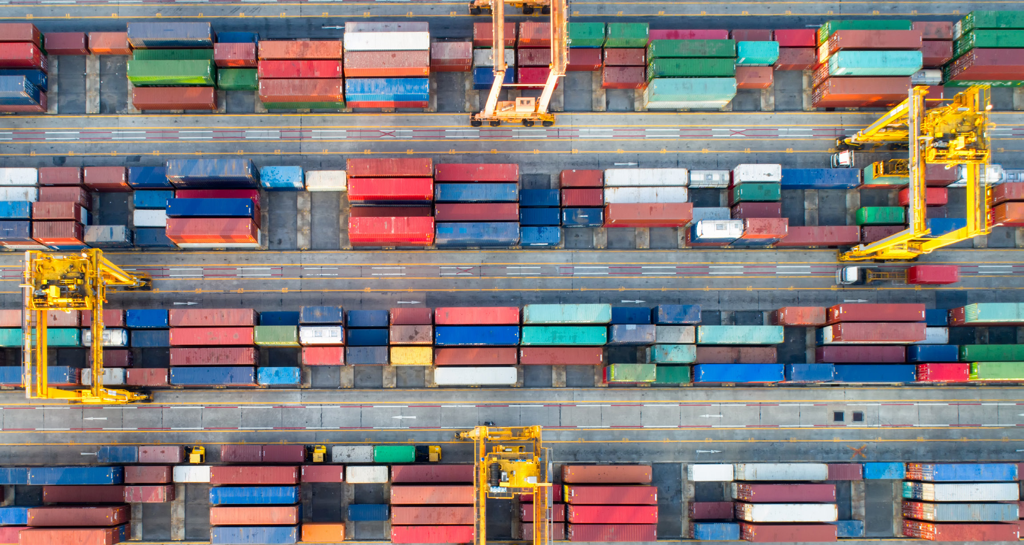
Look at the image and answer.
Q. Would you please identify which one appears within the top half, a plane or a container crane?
container crane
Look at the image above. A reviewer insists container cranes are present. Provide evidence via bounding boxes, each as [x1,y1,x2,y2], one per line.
[21,249,151,401]
[453,427,557,545]
[838,85,992,256]
[469,0,566,126]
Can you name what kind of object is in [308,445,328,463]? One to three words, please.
work vehicle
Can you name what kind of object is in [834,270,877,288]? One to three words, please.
vehicle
